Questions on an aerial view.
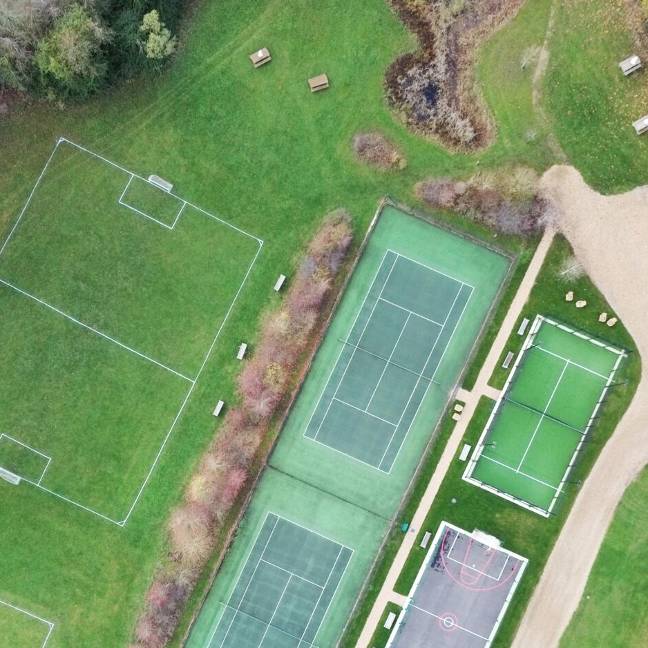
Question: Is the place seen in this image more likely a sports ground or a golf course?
sports ground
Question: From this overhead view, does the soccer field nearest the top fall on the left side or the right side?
left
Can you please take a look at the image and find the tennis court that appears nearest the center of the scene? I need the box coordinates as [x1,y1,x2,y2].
[268,206,510,517]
